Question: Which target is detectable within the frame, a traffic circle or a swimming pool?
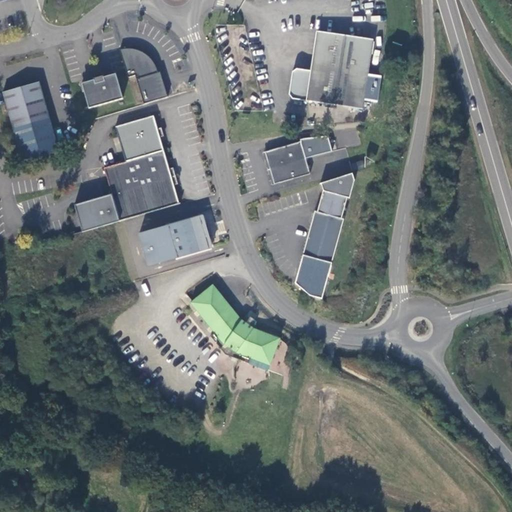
traffic circle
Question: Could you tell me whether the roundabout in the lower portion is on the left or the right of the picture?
right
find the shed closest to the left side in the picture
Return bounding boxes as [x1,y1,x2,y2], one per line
[2,82,57,160]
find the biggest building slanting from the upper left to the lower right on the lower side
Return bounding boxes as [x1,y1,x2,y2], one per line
[191,284,281,372]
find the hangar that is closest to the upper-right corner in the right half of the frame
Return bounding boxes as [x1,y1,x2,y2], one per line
[288,31,382,108]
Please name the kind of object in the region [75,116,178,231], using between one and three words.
building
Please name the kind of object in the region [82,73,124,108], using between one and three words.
building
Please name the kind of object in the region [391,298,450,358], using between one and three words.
roundabout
